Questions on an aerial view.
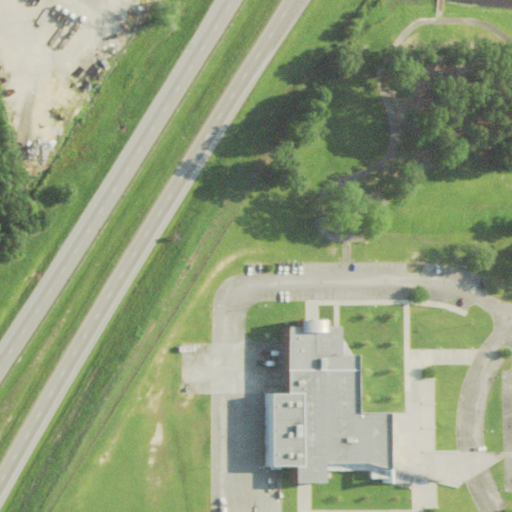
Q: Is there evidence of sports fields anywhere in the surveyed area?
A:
No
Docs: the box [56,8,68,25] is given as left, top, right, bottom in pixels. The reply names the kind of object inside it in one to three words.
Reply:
vehicle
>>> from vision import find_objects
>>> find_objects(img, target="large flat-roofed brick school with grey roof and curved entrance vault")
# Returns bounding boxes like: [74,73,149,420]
[266,318,460,488]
